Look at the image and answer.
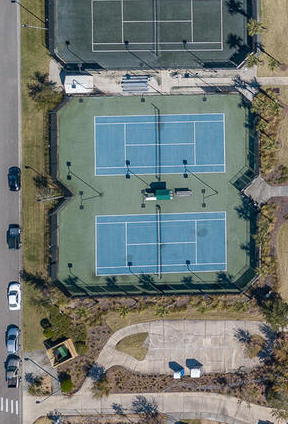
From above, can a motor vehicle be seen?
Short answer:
Yes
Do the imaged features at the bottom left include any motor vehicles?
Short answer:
Yes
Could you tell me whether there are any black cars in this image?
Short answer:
Yes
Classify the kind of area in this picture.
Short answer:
sports ground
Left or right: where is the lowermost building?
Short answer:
left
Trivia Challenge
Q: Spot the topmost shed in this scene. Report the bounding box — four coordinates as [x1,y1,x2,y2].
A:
[64,75,101,93]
